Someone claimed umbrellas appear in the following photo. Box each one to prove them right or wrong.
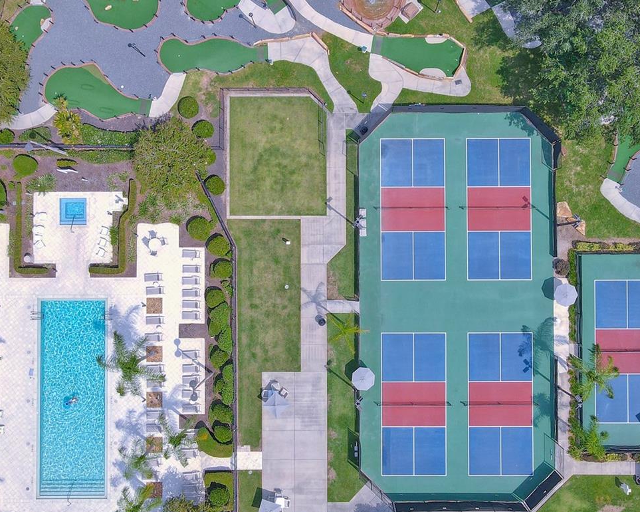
[352,367,375,389]
[553,282,577,306]
[262,390,290,419]
[257,496,284,512]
